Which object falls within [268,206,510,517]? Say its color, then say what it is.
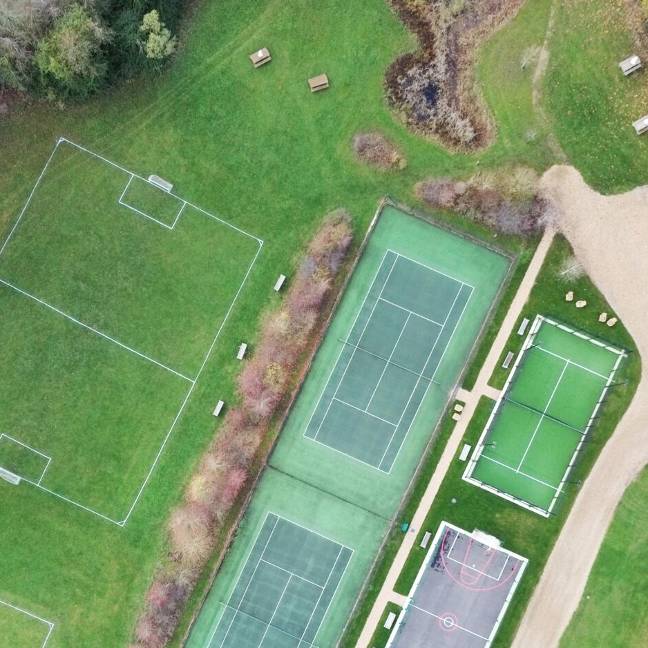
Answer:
green tennis court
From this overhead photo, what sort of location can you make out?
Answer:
sports ground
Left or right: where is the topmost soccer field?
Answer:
left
